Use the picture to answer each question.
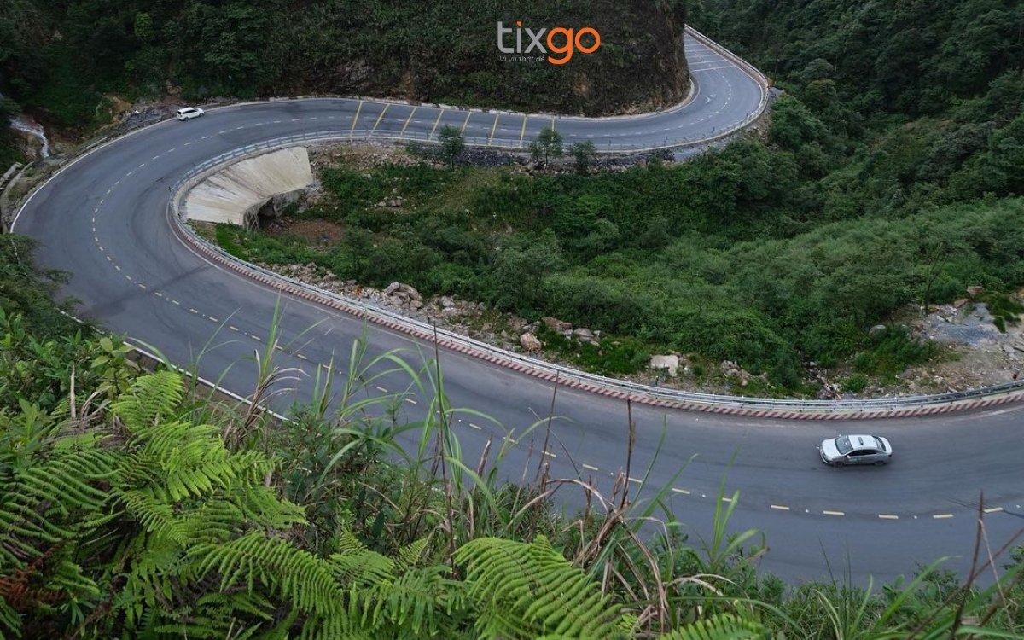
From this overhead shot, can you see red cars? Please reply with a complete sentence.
No, the frame has no red car in it.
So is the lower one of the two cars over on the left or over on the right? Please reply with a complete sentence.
You can find the lower one of the two cars on the right side of the picture.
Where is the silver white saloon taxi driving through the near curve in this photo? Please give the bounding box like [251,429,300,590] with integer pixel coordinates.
[818,434,894,467]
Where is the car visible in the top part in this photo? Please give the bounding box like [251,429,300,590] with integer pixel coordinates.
[172,106,205,121]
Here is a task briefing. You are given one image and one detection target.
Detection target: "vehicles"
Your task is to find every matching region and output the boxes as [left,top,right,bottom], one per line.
[172,106,205,121]
[818,434,894,467]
